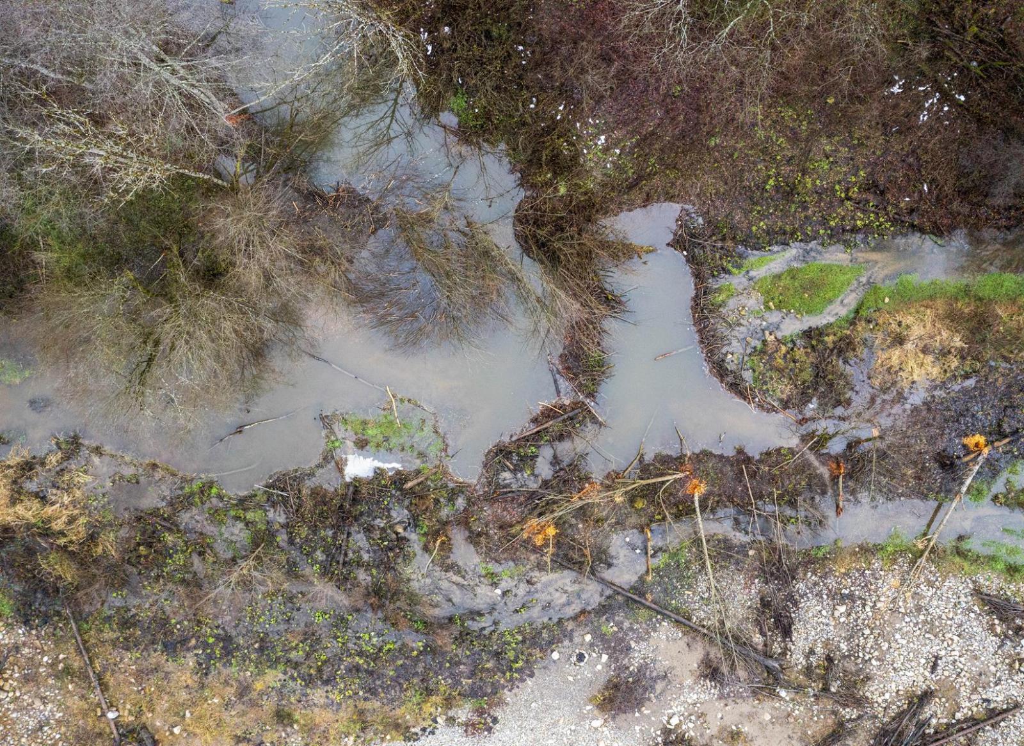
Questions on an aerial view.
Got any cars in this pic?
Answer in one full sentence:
No, the frame has no car in it.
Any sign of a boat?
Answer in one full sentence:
No, the frame has no boat in it.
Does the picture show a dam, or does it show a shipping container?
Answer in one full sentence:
The image shows a dam.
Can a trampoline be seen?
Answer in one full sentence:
No, the scene contains no trampoline.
